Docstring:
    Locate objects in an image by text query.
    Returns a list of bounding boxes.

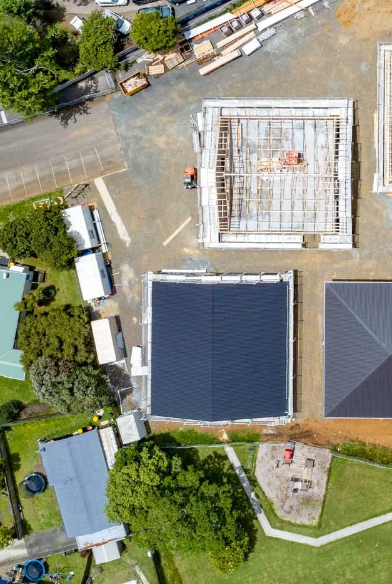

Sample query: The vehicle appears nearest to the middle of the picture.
[183,168,198,184]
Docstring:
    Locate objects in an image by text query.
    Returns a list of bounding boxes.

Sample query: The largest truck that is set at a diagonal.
[103,6,134,38]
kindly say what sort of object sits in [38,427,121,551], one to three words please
house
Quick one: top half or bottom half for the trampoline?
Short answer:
bottom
